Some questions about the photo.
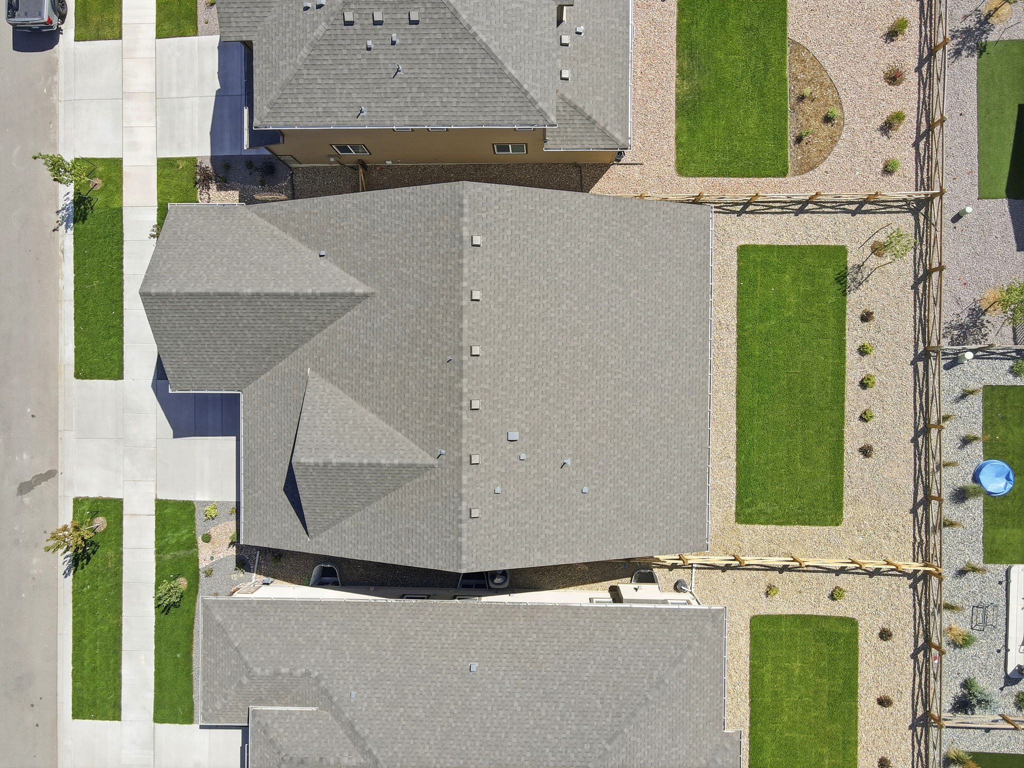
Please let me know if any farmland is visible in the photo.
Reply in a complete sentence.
No, farmland can't be seen anywhere here.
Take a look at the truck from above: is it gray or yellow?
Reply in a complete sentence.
From above, the truck appears gray.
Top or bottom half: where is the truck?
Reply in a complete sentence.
Seen from above, the truck lies in the top half of the view.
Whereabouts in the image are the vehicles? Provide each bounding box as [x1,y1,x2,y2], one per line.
[3,0,69,32]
